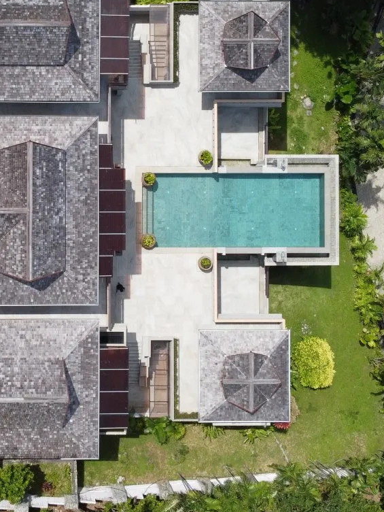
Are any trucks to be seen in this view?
No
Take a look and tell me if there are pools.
Yes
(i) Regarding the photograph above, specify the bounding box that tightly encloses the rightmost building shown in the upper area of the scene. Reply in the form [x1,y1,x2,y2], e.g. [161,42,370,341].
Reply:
[198,0,289,92]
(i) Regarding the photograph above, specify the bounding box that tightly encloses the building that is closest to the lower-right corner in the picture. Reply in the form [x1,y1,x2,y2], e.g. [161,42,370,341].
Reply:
[198,329,289,428]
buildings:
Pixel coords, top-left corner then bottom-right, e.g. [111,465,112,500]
[0,116,125,307]
[198,0,289,92]
[198,329,289,428]
[0,319,129,461]
[0,0,130,103]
